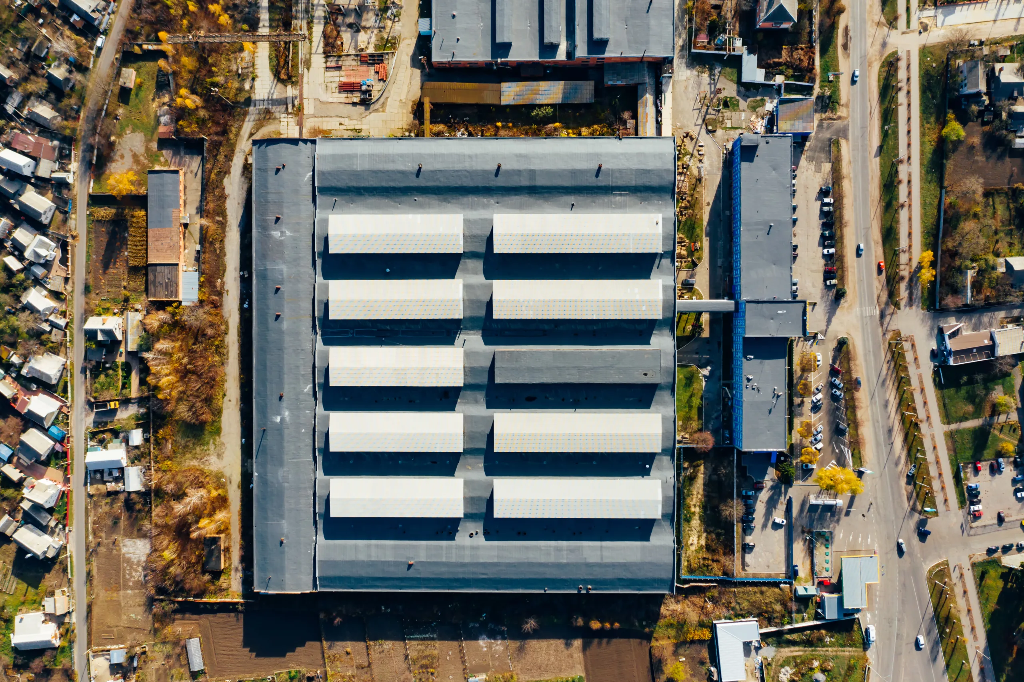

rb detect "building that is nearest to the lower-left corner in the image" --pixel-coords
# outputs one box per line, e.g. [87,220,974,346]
[11,610,65,652]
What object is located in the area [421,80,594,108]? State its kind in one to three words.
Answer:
shed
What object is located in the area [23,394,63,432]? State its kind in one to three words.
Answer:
house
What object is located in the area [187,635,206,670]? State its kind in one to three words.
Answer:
building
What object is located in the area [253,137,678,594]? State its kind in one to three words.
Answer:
building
